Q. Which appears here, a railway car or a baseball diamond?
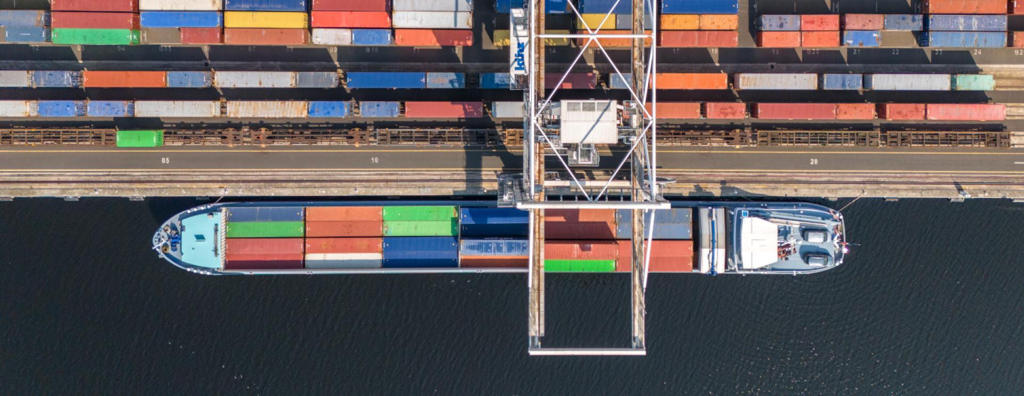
railway car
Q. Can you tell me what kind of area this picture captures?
port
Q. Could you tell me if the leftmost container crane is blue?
No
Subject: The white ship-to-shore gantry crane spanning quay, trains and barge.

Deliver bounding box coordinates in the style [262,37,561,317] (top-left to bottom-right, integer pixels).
[497,0,675,355]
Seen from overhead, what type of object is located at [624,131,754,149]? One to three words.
rail car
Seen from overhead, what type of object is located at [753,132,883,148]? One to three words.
rail car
